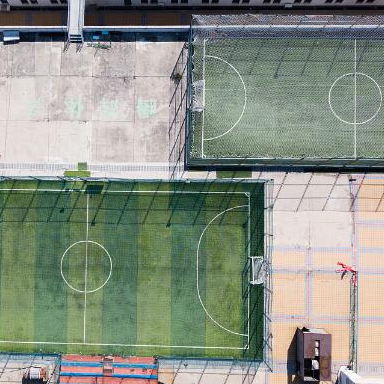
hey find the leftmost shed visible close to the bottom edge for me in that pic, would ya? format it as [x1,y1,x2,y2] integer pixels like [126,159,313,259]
[297,327,332,382]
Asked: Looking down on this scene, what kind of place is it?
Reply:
sports ground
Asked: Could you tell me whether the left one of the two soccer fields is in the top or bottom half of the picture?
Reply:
bottom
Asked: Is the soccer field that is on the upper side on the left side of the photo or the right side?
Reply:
right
